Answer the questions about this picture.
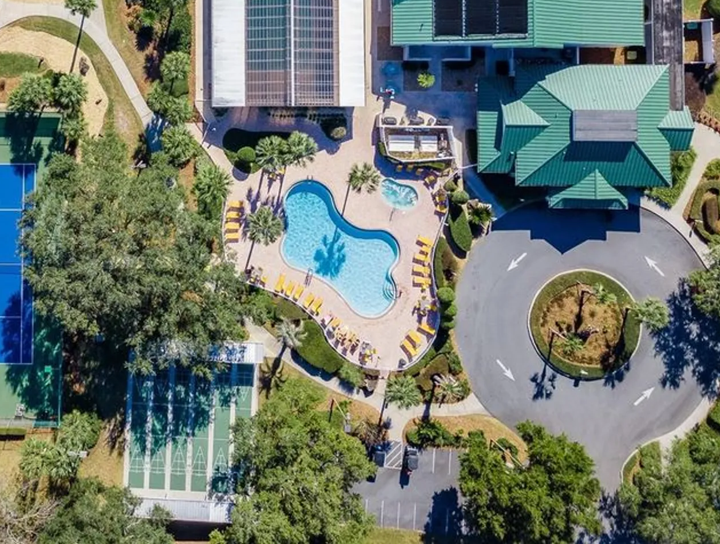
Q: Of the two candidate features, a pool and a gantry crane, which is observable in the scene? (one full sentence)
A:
Visible in the photo is a pool.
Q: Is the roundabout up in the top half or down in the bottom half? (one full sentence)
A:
The bottom half of the photo is where the roundabout is.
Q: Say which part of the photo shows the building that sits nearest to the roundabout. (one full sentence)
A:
The building that sits nearest to the roundabout is in the top right part of the image.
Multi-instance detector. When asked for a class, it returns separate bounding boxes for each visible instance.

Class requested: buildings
[471,64,694,208]
[389,0,644,49]
[212,0,366,109]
